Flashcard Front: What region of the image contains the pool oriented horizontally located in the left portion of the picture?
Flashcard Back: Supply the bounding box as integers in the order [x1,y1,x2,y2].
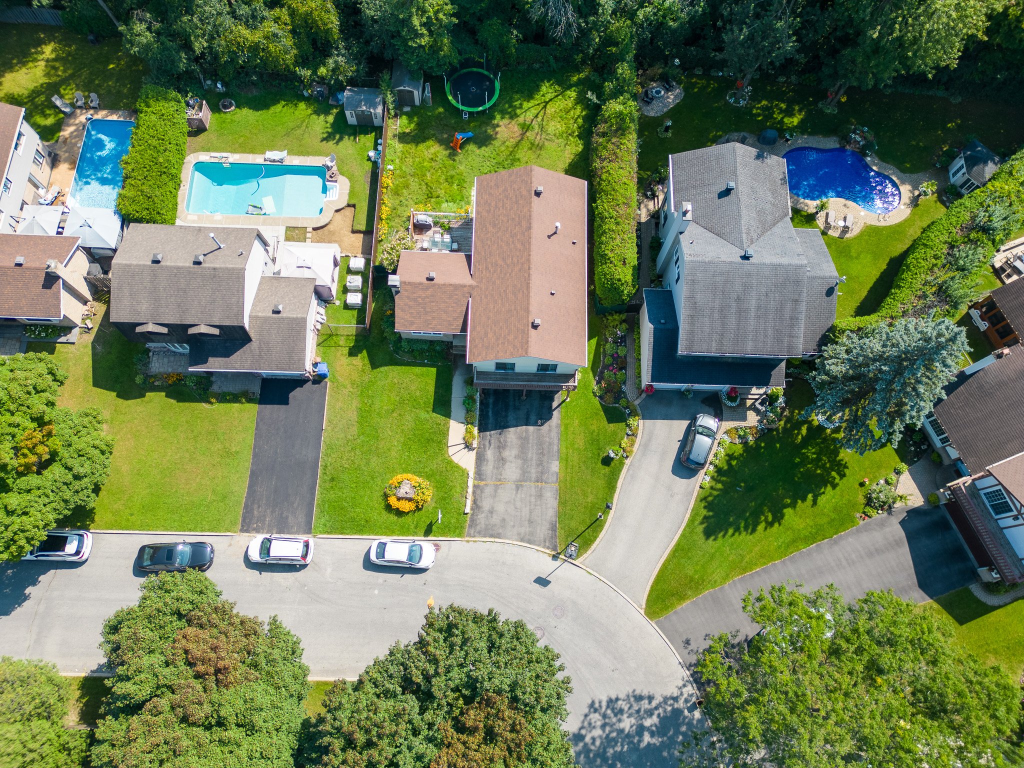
[179,149,350,227]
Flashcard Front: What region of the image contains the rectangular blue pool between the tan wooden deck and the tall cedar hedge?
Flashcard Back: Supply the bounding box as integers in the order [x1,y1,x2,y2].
[61,117,133,236]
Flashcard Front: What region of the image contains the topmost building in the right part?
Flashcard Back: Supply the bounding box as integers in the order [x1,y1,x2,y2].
[950,137,1024,192]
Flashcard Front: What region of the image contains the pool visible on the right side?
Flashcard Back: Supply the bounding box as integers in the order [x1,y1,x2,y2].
[781,143,905,220]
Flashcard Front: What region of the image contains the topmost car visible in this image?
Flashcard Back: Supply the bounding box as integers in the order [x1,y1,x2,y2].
[680,409,722,474]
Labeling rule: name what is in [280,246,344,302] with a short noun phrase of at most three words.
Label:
gazebo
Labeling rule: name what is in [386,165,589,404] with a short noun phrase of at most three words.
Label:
house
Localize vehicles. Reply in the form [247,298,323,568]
[680,409,722,474]
[18,528,95,564]
[368,537,438,571]
[246,531,316,567]
[135,538,216,573]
